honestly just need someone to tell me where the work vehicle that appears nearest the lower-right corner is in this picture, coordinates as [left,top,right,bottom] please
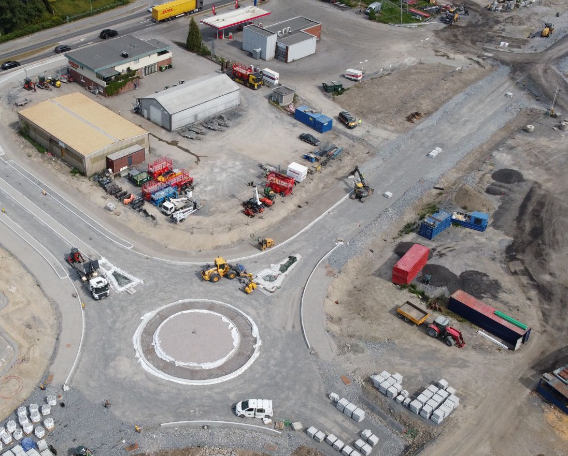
[432,320,474,352]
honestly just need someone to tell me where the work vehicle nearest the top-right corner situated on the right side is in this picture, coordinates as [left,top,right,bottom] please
[543,24,555,36]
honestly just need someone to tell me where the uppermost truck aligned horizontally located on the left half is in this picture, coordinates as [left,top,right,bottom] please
[153,0,207,21]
